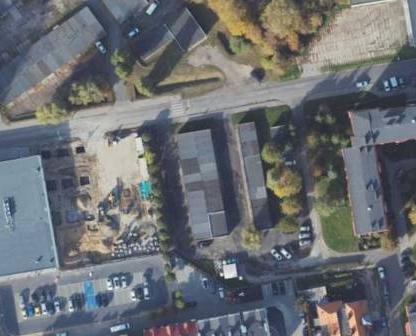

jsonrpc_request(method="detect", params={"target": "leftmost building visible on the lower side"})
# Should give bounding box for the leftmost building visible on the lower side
[0,155,60,278]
